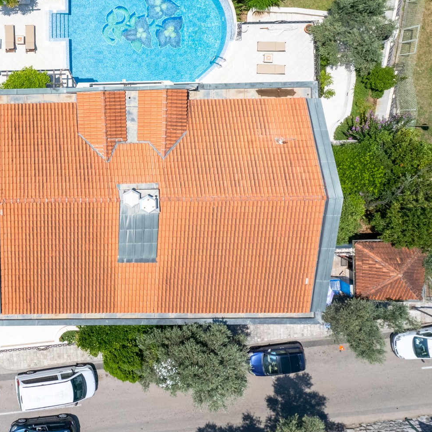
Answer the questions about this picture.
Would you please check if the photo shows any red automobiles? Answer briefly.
No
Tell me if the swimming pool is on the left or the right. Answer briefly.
left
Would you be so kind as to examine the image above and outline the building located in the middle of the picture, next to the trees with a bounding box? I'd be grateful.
[0,80,342,326]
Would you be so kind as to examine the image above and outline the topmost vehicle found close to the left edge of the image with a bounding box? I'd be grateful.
[15,365,95,411]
